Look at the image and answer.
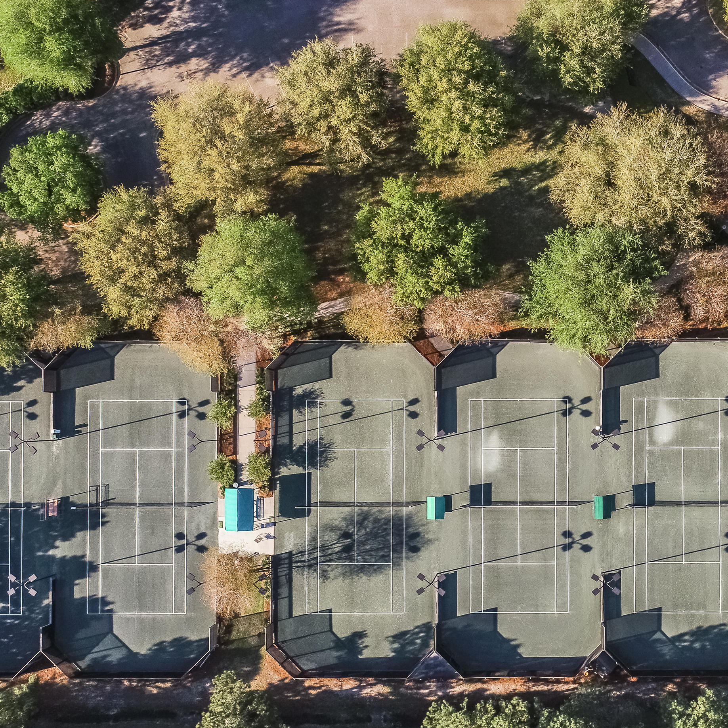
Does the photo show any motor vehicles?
No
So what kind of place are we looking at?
sports ground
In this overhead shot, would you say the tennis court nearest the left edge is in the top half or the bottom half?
bottom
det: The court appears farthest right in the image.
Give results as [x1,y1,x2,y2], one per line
[601,343,728,672]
